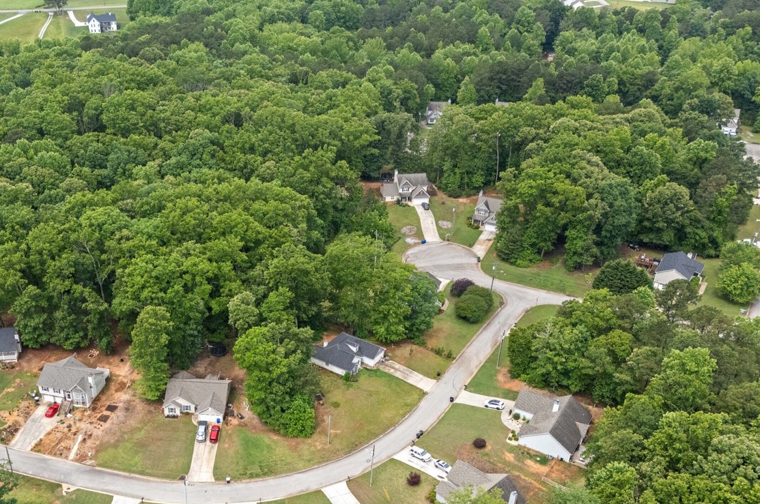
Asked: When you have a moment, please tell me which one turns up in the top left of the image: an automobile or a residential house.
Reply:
residential house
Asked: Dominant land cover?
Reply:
trees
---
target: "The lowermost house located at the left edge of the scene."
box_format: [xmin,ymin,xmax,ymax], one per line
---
[35,351,111,414]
